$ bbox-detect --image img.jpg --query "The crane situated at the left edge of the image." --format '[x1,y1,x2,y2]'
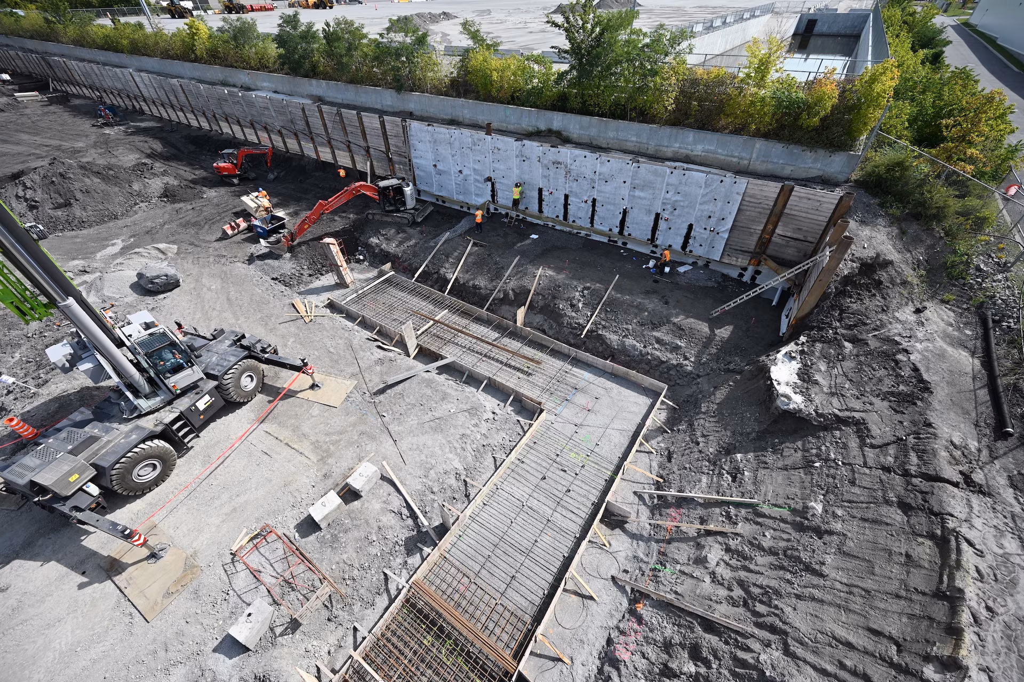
[0,201,324,570]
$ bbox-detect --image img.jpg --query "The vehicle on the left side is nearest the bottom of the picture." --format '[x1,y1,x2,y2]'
[258,175,436,255]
